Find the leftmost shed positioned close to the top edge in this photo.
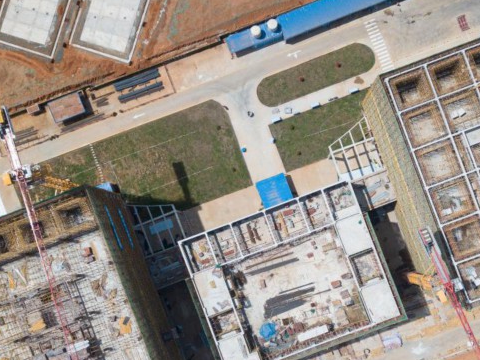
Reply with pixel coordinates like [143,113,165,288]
[223,15,284,62]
